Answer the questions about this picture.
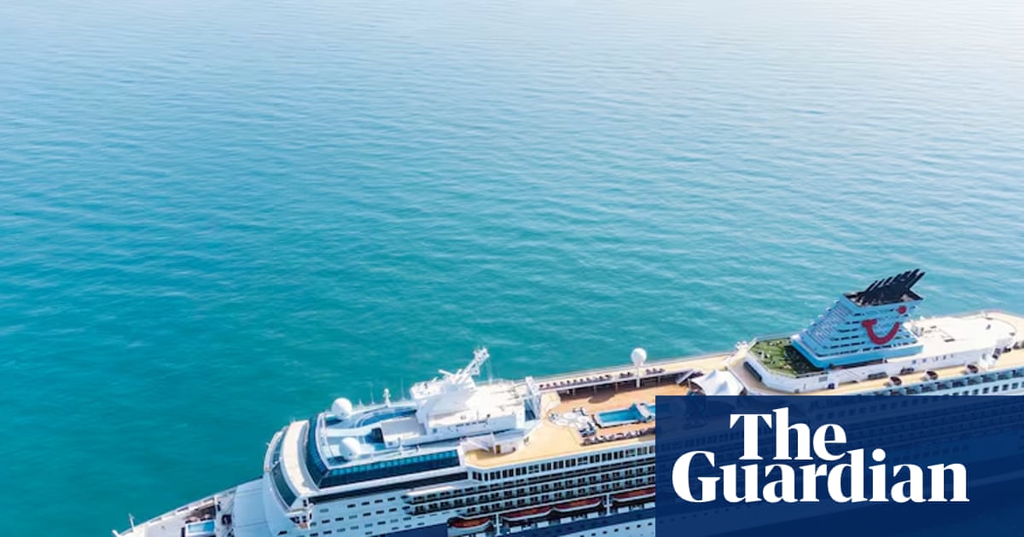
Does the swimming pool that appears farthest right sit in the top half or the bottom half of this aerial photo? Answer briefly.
bottom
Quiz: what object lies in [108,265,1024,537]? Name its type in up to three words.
ship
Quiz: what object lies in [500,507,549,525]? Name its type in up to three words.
boat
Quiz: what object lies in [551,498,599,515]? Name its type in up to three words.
boat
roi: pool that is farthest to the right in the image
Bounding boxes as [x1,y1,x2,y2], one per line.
[643,398,697,424]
